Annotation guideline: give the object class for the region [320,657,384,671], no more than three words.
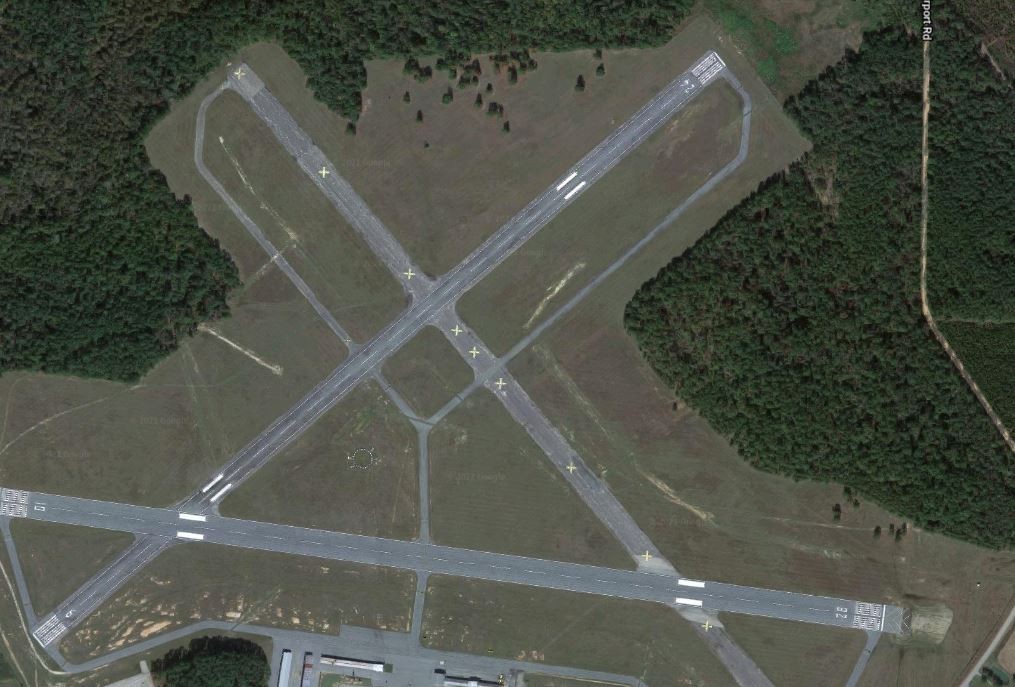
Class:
hangar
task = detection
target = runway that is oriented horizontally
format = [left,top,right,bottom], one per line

[0,487,913,635]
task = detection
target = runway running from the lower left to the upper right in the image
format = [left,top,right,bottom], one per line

[32,50,726,648]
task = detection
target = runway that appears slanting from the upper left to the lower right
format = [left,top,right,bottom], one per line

[227,62,769,687]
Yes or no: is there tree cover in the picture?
Yes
